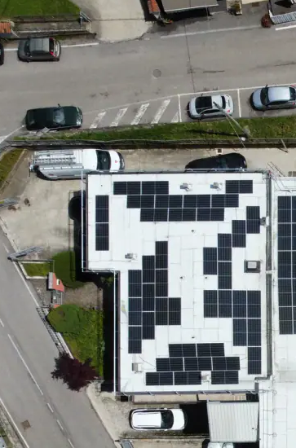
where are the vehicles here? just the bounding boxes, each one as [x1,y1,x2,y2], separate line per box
[187,152,249,171]
[251,85,296,114]
[130,407,187,432]
[19,36,63,64]
[30,150,129,184]
[24,104,87,133]
[187,94,236,121]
